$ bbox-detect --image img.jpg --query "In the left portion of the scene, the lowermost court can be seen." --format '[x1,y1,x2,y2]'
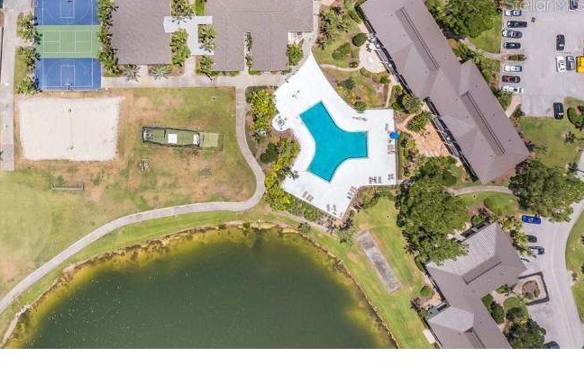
[17,96,122,160]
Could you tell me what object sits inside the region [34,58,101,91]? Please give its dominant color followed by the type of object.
blue basketball court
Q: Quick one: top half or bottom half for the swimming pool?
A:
top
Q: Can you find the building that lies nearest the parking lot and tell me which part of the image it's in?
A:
top right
